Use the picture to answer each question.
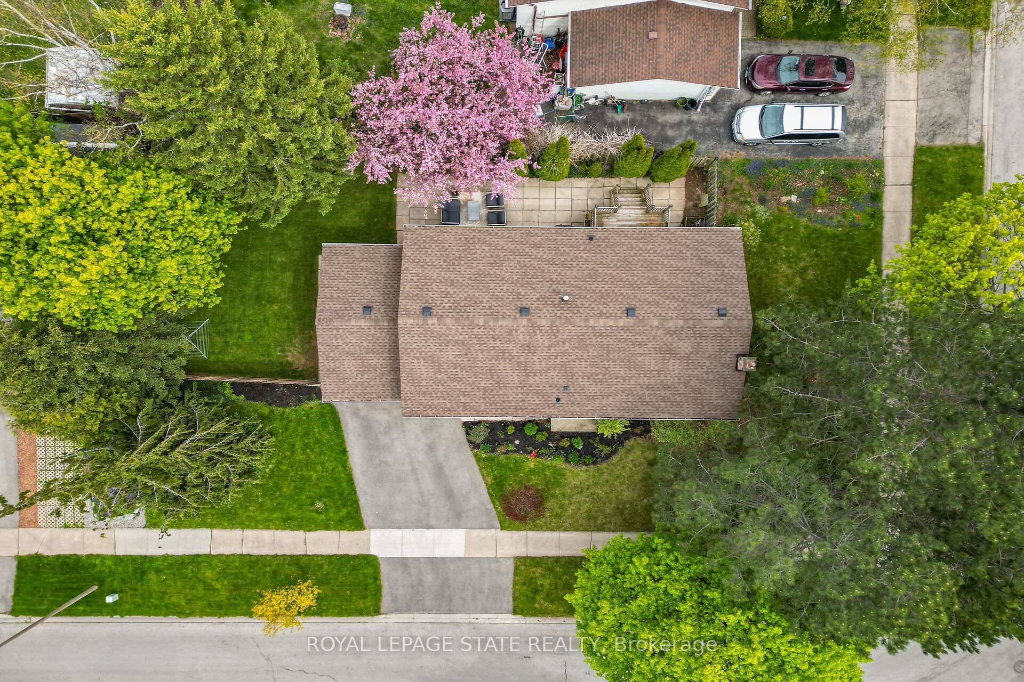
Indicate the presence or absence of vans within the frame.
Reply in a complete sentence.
Yes, I can see a van in this picture.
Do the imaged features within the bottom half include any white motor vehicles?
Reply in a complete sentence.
No, I can find no white motor vehicle within the bottom half.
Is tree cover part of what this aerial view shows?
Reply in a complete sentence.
Yes, there is tree cover in the image.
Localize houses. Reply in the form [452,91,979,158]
[315,223,759,422]
[502,0,755,102]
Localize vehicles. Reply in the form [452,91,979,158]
[743,47,858,99]
[732,97,851,150]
